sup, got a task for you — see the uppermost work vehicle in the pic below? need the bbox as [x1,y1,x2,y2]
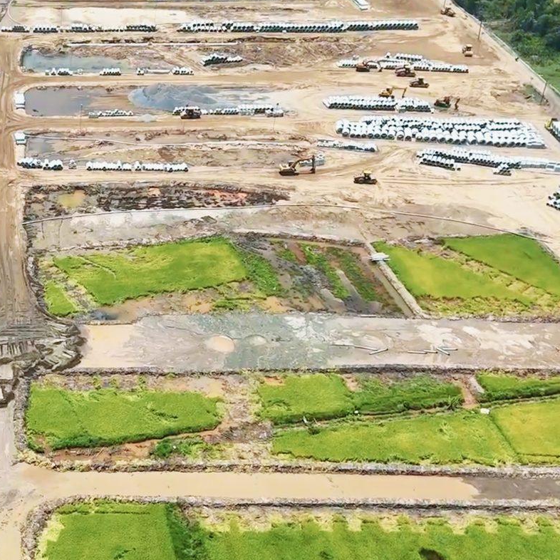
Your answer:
[442,4,458,17]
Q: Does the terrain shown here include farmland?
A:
Yes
